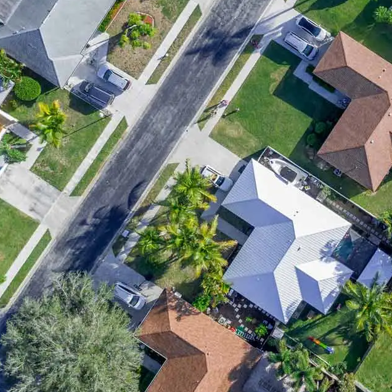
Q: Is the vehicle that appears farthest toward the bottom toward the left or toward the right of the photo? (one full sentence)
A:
The vehicle that appears farthest toward the bottom is on the left side of the image.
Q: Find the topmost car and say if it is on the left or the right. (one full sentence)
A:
It is on the right.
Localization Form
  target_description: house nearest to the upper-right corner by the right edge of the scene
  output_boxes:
[313,30,392,192]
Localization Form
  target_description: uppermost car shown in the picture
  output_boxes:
[295,13,331,45]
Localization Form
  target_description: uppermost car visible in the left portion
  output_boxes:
[96,62,133,91]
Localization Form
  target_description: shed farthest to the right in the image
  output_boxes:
[356,247,392,289]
